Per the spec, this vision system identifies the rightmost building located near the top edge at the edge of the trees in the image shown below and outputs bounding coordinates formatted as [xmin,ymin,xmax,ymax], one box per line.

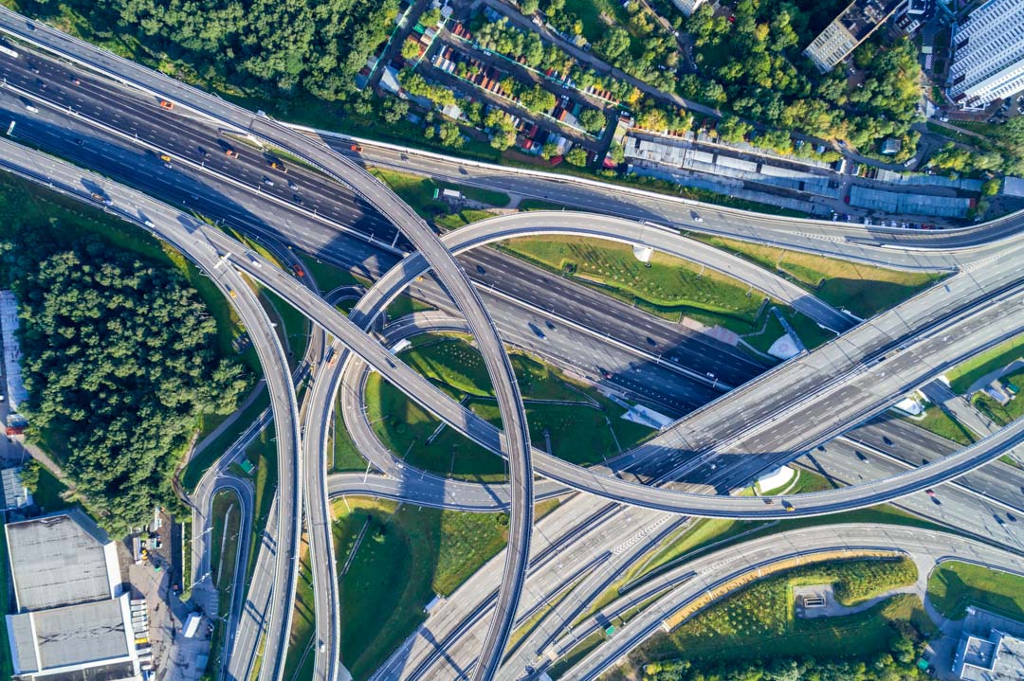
[942,0,1024,109]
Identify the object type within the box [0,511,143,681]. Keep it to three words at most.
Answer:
building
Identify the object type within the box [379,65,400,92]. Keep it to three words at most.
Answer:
shed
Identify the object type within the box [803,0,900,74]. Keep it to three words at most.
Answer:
building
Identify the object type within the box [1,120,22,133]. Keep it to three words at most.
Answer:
vehicle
